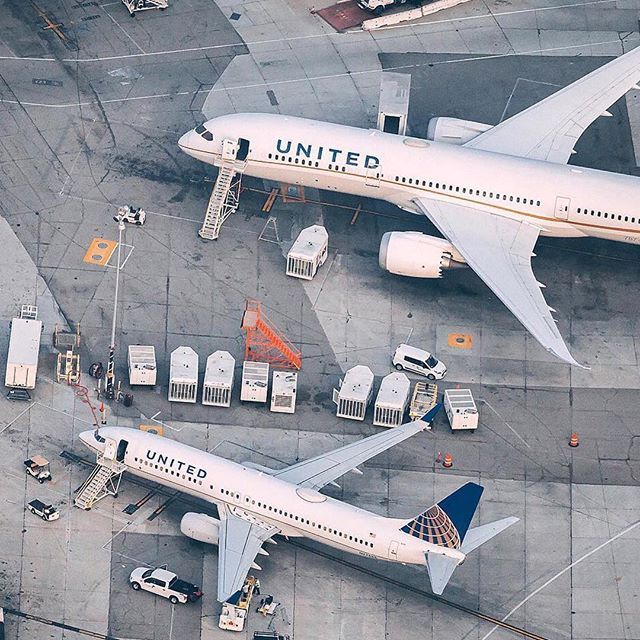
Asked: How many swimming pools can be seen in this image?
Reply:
0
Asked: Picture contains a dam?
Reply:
No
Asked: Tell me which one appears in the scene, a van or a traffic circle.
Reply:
van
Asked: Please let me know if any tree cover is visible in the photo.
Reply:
No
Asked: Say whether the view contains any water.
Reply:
No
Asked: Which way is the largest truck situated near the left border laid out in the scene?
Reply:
up and down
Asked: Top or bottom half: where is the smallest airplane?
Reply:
bottom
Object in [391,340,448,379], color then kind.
white van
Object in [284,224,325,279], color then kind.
white trailer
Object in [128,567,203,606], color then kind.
white truck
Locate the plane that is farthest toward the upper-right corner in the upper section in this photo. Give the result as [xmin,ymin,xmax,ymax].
[179,56,640,369]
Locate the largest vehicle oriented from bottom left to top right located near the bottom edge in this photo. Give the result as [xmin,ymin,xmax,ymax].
[219,569,262,628]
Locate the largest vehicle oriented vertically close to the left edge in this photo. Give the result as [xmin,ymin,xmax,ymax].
[6,301,44,402]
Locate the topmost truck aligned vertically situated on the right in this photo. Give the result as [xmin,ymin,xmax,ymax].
[381,74,411,134]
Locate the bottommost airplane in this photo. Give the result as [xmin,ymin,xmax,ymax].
[81,404,524,607]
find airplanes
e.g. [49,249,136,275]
[81,404,524,607]
[179,56,640,369]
